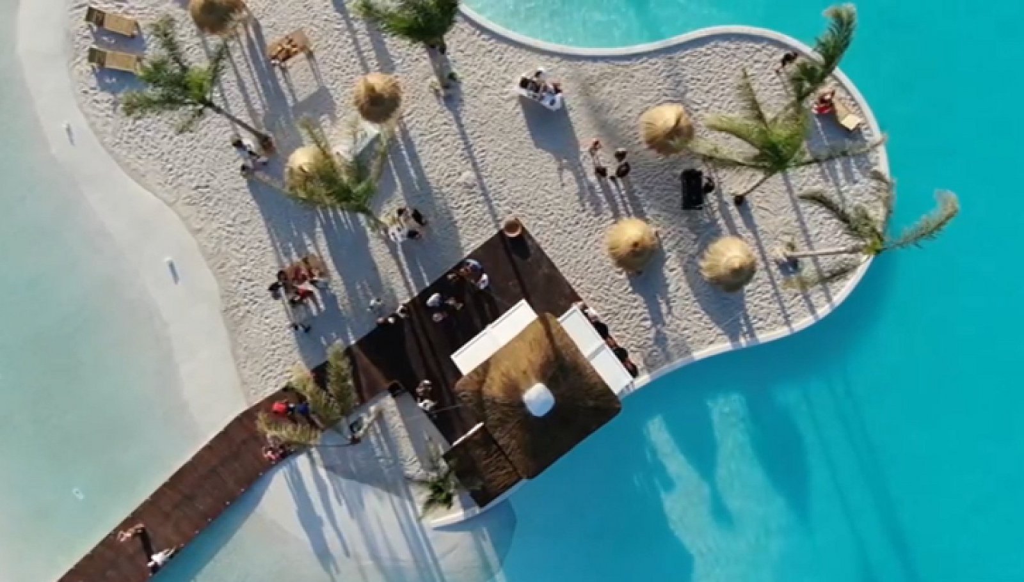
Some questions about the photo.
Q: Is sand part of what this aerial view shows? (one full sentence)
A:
Yes, there is sand in the image.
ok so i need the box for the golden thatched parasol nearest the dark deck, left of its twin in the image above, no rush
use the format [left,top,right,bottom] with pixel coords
[604,220,656,274]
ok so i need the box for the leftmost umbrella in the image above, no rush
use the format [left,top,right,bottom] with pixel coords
[192,0,251,44]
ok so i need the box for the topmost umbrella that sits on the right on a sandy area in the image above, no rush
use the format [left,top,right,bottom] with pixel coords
[635,104,687,155]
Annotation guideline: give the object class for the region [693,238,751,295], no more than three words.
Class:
umbrella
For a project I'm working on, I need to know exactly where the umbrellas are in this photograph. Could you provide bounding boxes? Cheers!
[604,220,656,274]
[192,0,251,44]
[693,238,751,295]
[353,74,404,125]
[287,145,334,195]
[635,104,687,155]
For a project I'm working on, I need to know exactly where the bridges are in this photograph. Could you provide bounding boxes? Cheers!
[61,387,300,582]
